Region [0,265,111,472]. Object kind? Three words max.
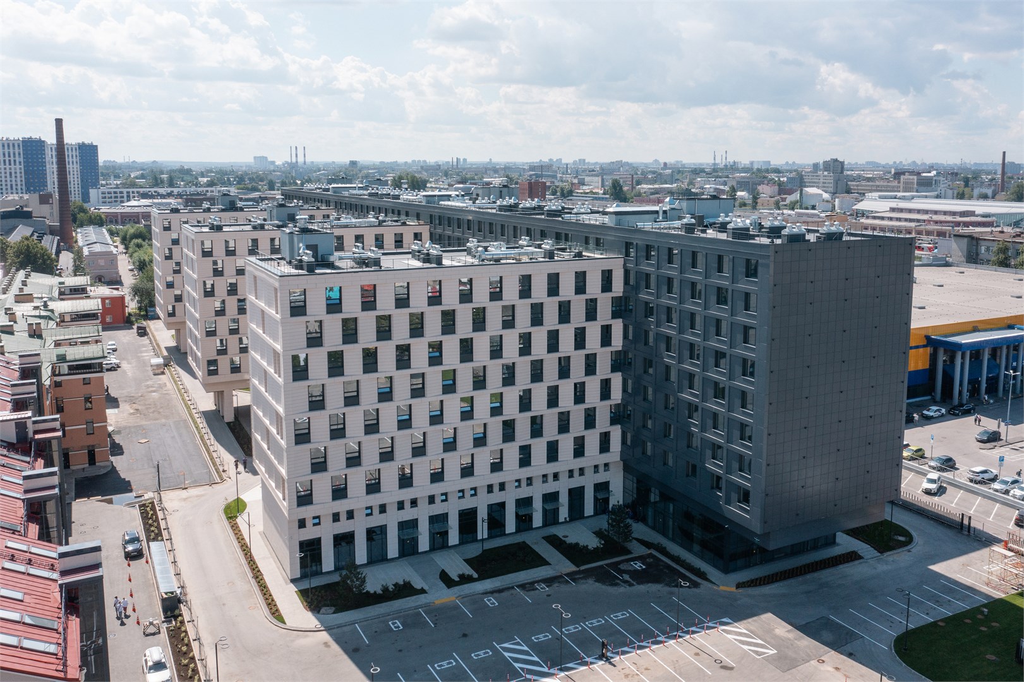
building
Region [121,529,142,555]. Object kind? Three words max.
car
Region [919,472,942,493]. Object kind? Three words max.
car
